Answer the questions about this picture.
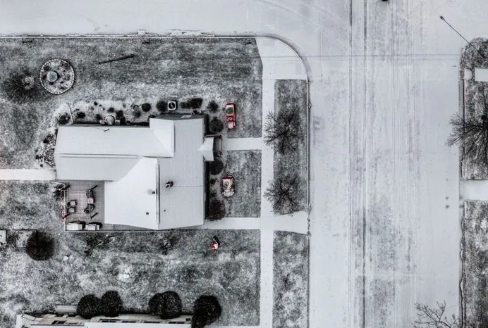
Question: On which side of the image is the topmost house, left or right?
left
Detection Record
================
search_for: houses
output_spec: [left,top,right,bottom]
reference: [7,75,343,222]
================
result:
[50,116,221,237]
[15,311,205,328]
